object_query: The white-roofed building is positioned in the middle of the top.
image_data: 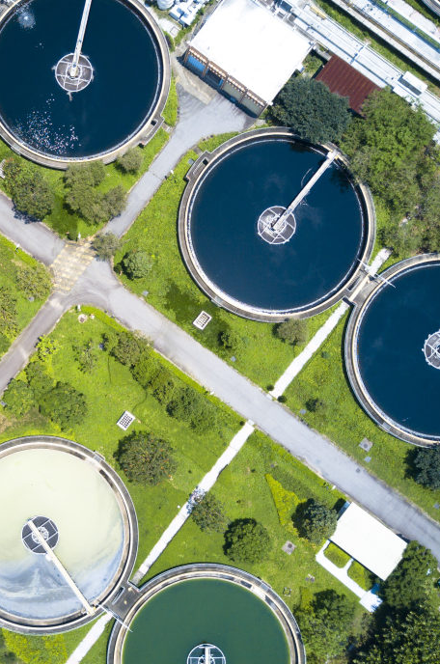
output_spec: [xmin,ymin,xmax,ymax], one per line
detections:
[183,0,311,114]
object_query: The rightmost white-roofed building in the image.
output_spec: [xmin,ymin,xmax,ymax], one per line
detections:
[330,501,406,580]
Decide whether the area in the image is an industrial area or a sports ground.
industrial area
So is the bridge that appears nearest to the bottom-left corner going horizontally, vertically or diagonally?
diagonally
